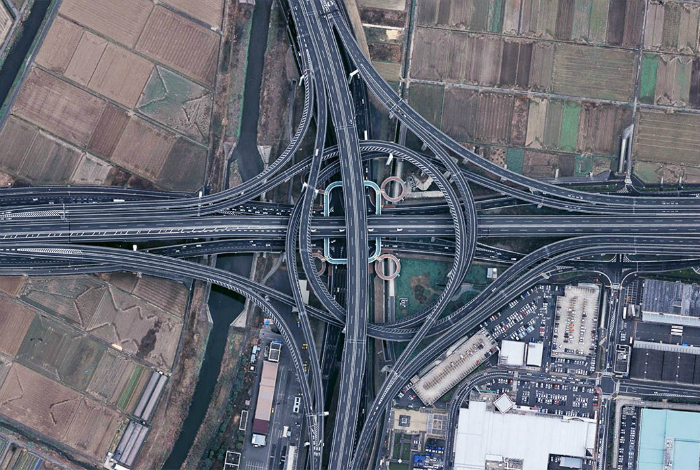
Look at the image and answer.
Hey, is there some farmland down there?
Yes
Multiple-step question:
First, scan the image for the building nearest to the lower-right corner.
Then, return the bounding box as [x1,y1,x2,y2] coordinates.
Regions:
[636,408,700,470]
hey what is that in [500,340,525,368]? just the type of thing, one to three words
building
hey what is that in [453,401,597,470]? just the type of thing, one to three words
building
